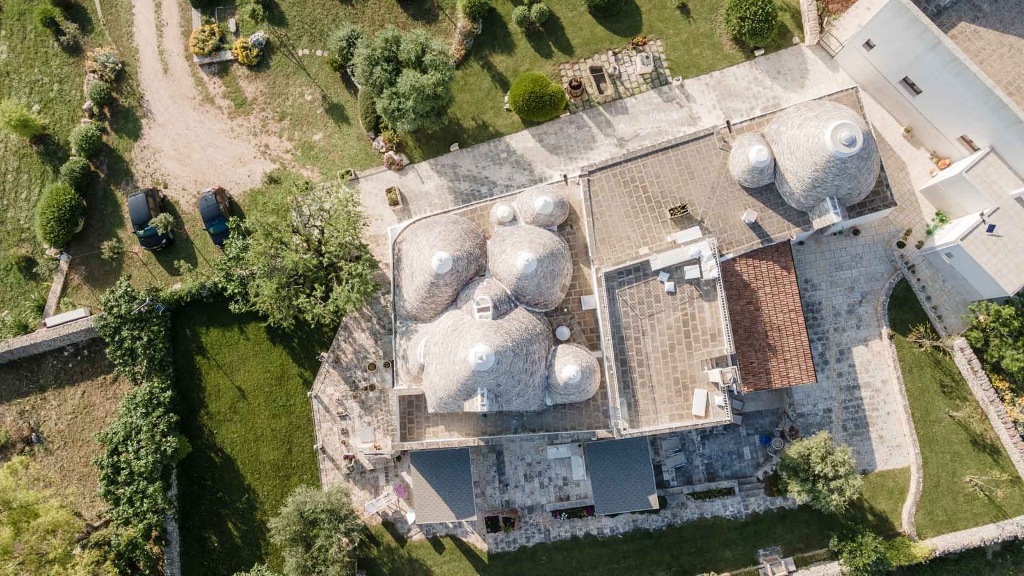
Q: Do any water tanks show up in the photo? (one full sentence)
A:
No, I can see no water tank in this picture.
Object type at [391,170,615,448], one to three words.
house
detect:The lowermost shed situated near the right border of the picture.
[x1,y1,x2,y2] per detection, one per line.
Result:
[922,202,1024,305]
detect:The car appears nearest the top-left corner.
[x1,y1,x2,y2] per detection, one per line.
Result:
[132,190,172,255]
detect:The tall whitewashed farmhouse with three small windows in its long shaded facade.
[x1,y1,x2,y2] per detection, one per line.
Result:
[829,0,1024,188]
